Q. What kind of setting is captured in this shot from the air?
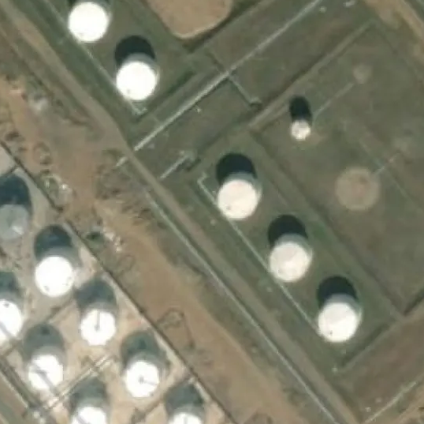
industrial area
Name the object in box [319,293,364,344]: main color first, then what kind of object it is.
white storage tank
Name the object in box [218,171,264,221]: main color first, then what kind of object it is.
white storage tank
